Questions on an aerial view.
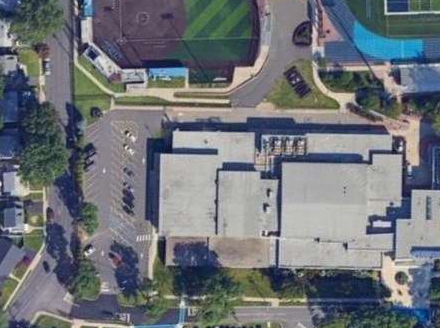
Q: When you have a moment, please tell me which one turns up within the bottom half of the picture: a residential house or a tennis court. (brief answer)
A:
residential house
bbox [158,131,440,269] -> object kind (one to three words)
building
